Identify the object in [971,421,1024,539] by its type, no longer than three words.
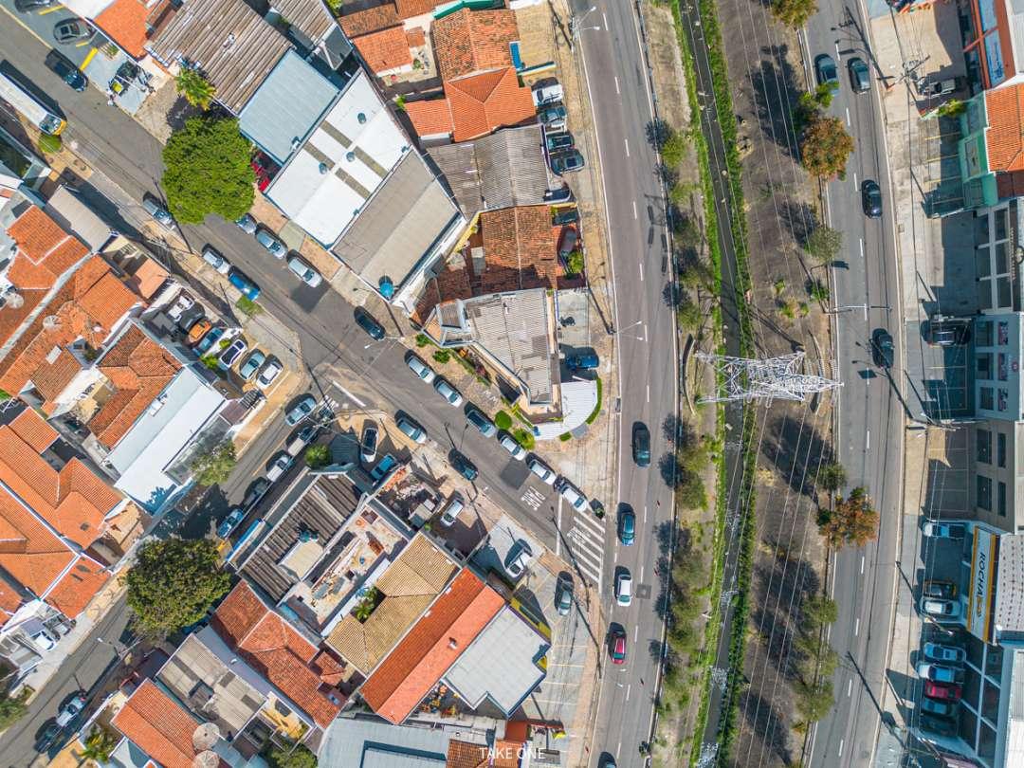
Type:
building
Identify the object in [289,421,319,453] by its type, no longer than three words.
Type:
truck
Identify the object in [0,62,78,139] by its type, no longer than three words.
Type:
bus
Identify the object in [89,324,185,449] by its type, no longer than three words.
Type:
house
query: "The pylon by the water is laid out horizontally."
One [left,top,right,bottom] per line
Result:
[693,349,846,407]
